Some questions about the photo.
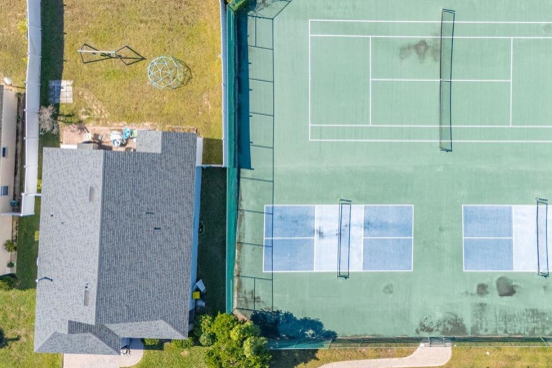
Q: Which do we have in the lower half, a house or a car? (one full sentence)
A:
The feature located in the lower half is a house.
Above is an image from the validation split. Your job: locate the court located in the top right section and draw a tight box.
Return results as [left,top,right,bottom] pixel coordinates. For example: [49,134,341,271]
[309,19,552,141]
